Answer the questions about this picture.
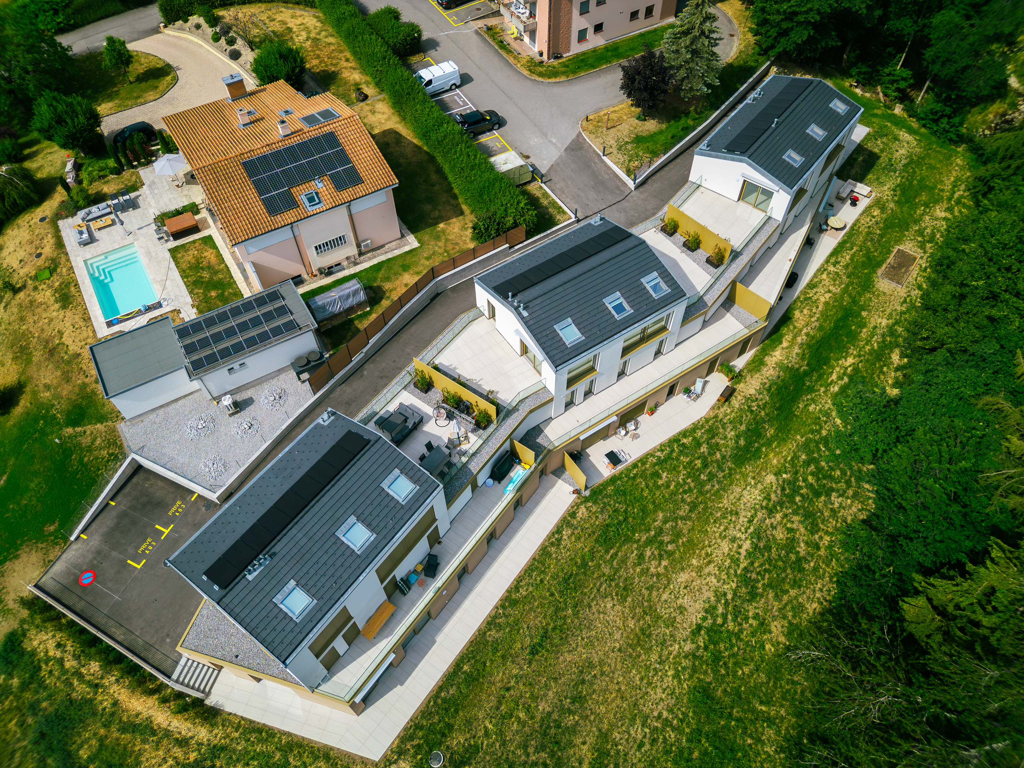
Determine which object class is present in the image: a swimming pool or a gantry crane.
swimming pool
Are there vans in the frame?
Yes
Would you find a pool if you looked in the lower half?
No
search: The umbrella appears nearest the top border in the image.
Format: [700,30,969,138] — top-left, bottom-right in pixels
[152,156,190,187]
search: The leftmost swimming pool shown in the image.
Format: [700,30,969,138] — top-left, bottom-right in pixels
[84,243,162,328]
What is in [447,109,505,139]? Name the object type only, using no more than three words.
car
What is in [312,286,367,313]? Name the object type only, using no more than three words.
greenhouse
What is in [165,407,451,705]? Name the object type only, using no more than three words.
building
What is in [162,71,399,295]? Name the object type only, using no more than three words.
house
